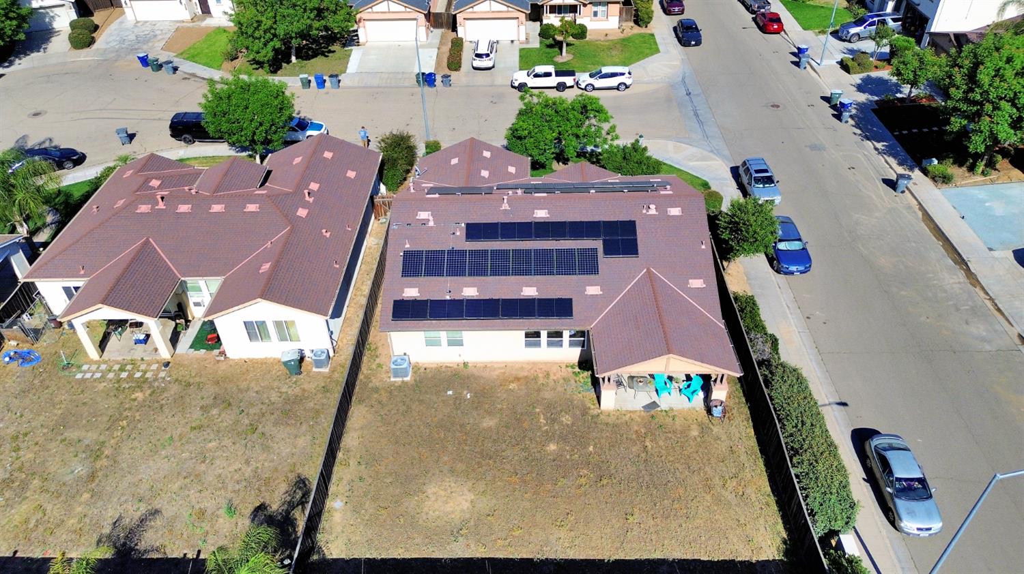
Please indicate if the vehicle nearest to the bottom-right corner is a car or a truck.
car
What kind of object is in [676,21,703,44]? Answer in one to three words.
car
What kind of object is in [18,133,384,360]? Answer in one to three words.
house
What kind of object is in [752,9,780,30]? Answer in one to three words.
car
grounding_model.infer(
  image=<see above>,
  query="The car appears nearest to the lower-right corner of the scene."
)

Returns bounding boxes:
[863,430,945,535]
